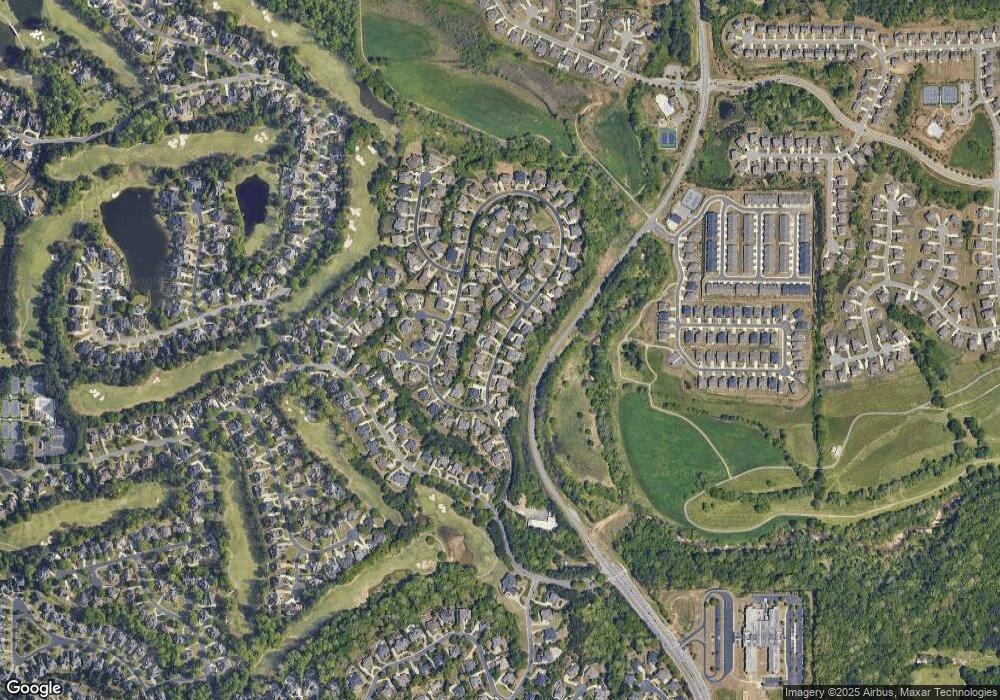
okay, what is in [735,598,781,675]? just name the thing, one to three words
building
